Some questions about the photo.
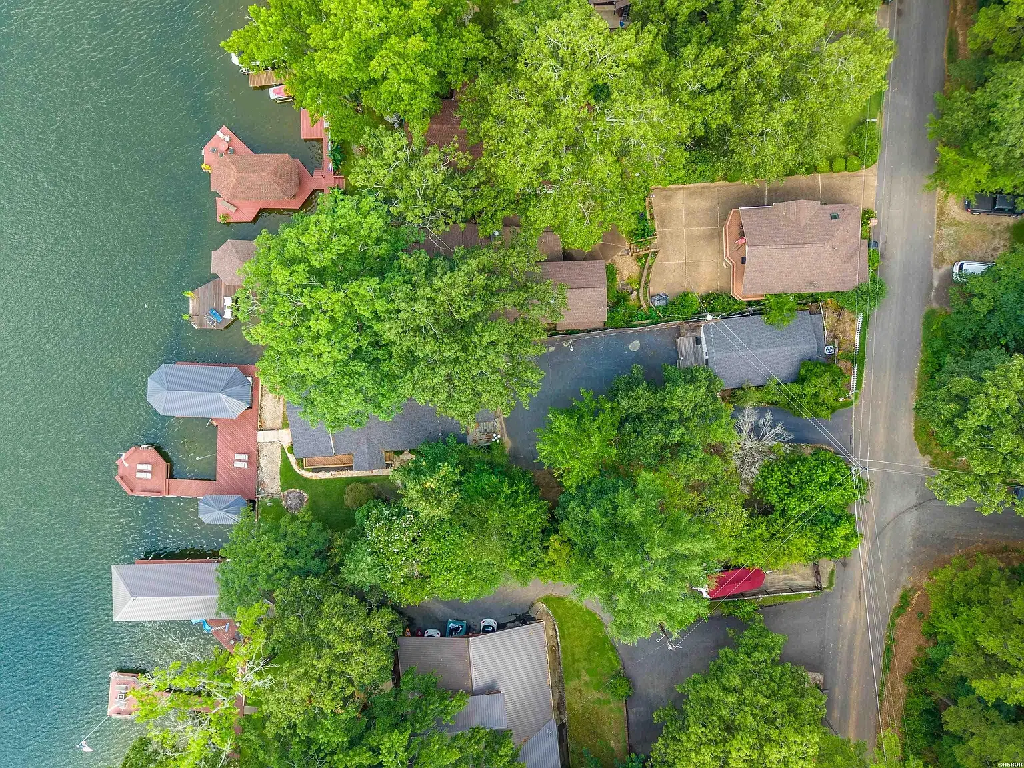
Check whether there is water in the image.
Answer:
Yes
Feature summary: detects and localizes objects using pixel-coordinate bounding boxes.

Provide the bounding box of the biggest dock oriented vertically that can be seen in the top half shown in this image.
[301,109,339,194]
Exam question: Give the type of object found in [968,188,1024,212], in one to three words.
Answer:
truck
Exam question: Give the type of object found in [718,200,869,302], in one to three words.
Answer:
house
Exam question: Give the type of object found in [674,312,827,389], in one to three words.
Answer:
house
